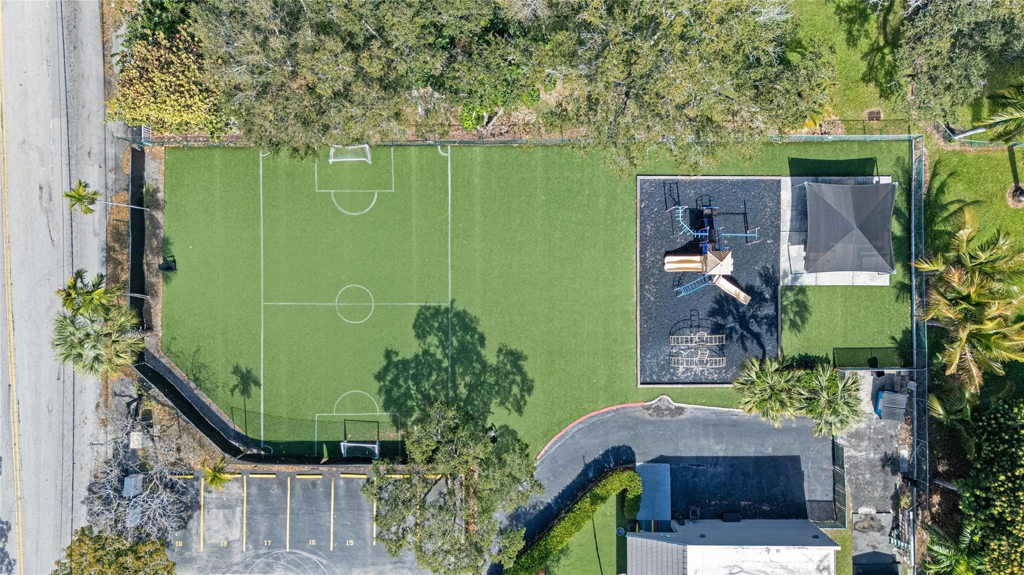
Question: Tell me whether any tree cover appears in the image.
Yes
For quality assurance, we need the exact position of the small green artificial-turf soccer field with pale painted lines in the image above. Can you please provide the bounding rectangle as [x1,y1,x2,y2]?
[161,142,912,467]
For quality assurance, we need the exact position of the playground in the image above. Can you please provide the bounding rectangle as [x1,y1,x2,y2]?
[637,175,782,388]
